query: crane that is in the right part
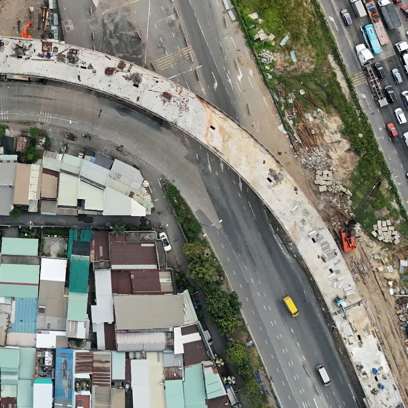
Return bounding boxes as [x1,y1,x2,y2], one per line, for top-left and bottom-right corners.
[340,182,381,253]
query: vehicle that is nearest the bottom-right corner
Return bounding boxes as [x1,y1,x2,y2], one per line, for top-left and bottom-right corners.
[314,362,328,384]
